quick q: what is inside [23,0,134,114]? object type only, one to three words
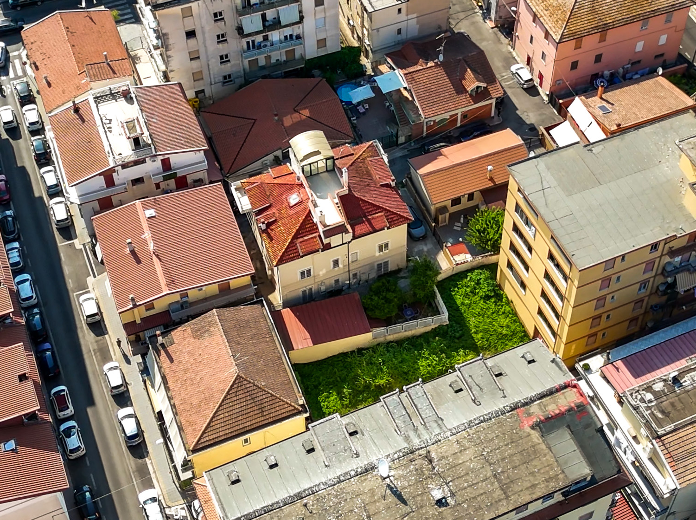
house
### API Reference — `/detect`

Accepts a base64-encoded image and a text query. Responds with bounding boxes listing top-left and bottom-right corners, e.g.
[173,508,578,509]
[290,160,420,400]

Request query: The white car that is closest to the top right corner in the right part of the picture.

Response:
[508,63,538,89]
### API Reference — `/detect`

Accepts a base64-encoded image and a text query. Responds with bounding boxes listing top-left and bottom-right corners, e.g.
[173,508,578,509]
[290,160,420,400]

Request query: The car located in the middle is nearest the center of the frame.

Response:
[407,207,427,240]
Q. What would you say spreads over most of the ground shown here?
buildings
